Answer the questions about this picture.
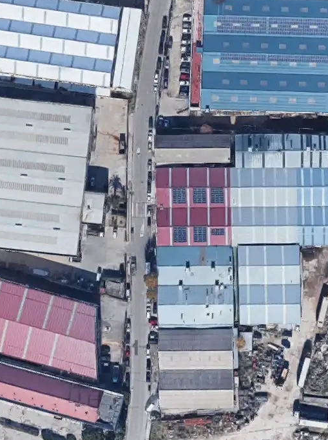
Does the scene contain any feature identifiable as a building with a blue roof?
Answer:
Yes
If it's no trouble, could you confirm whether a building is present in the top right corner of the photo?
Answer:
Yes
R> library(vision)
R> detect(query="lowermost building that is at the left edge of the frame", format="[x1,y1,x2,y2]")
[0,362,104,424]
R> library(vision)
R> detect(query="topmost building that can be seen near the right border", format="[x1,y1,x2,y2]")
[201,0,328,115]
